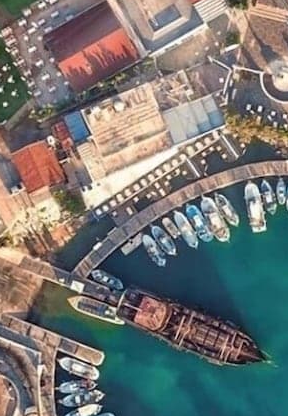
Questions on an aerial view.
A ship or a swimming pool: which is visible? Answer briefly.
ship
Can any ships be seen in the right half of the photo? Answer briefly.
Yes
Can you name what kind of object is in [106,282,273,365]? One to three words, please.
ship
